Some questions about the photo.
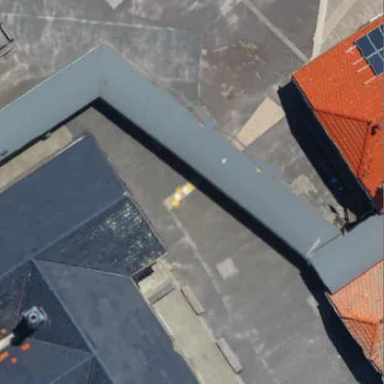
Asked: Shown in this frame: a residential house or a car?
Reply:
residential house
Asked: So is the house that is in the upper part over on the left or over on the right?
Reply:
right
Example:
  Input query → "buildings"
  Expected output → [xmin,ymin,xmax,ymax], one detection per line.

[291,19,384,209]
[326,258,384,382]
[0,137,203,384]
